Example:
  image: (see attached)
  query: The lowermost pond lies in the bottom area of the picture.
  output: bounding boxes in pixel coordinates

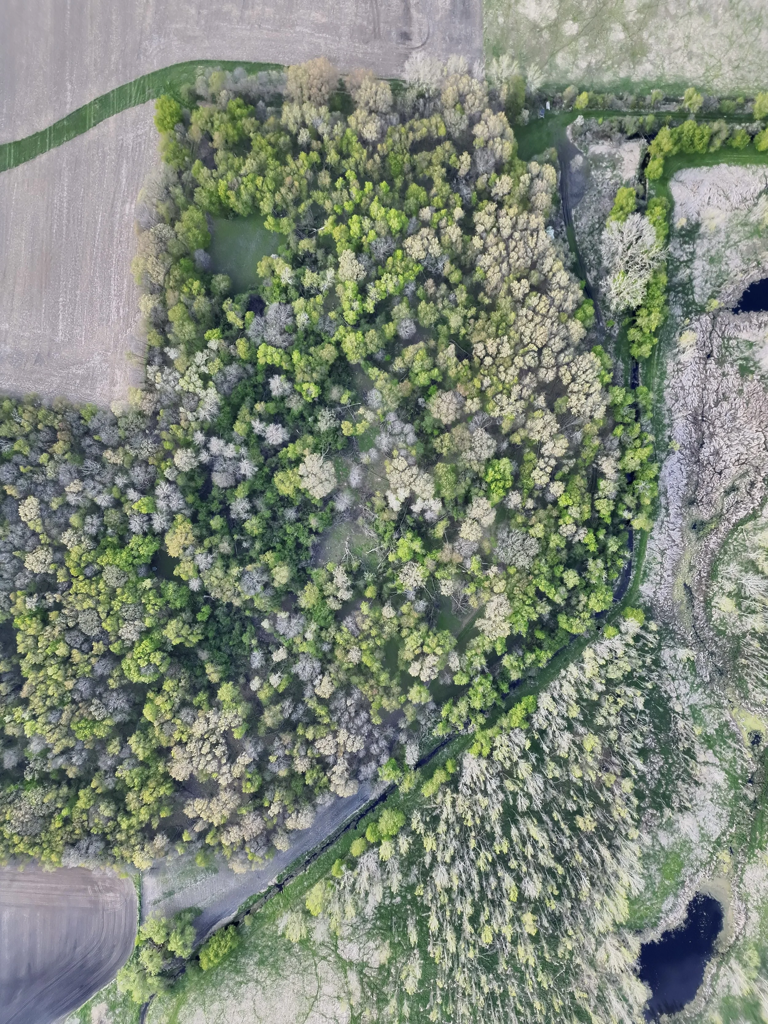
[637,891,722,1024]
